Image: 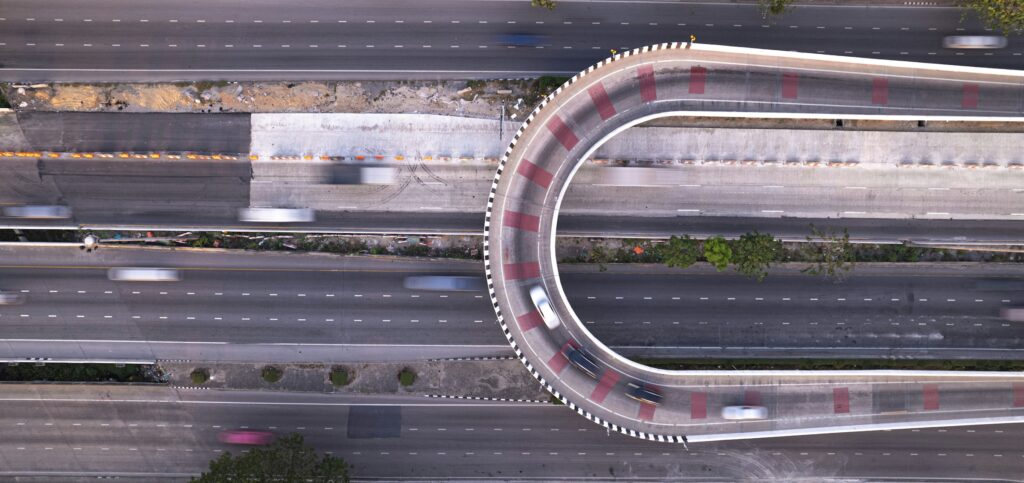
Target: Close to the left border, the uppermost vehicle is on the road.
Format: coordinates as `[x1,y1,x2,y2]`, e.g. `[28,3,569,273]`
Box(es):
[12,205,59,219]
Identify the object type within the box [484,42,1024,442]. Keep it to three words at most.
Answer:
bridge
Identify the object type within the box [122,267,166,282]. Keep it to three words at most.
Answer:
car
